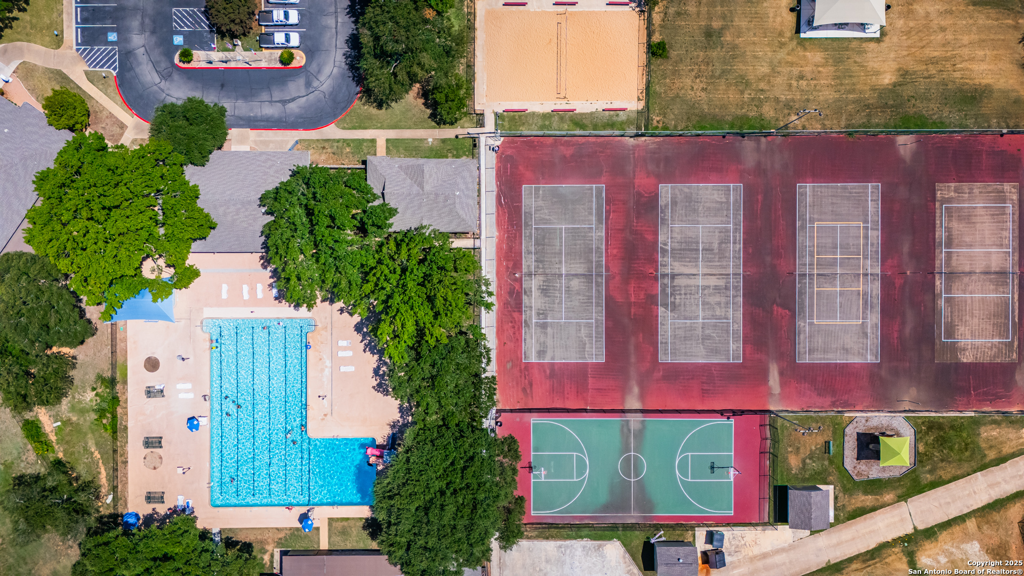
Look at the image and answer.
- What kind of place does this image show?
sports ground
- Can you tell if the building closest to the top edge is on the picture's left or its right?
right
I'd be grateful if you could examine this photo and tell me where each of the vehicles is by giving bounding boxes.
[257,6,301,26]
[258,29,301,49]
[263,0,299,6]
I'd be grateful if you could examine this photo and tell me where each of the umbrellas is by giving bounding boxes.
[300,515,316,531]
[187,416,201,430]
[123,508,144,529]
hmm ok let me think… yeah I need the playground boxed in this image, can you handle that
[861,431,911,466]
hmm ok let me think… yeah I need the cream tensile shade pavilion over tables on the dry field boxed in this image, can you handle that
[804,0,886,33]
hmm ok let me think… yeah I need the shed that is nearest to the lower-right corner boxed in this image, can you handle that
[780,483,829,531]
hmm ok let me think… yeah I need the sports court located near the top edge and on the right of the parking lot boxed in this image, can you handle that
[474,0,644,114]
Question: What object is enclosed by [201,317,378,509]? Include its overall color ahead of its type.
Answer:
blue swimming pool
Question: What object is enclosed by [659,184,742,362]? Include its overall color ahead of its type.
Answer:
gray tennis court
